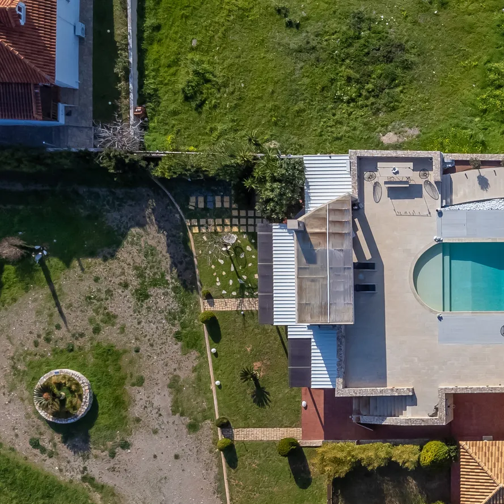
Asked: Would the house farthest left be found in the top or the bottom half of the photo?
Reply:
top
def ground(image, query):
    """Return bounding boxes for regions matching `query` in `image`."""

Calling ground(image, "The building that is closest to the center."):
[284,194,363,325]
